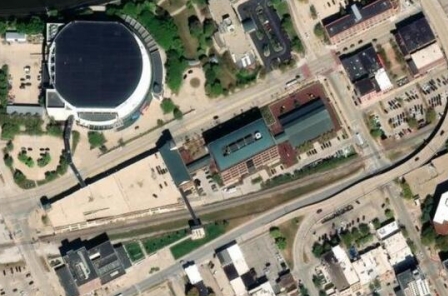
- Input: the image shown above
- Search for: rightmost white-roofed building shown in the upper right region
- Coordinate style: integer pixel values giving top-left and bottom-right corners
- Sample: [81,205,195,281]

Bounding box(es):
[412,43,445,75]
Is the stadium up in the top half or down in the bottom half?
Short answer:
top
